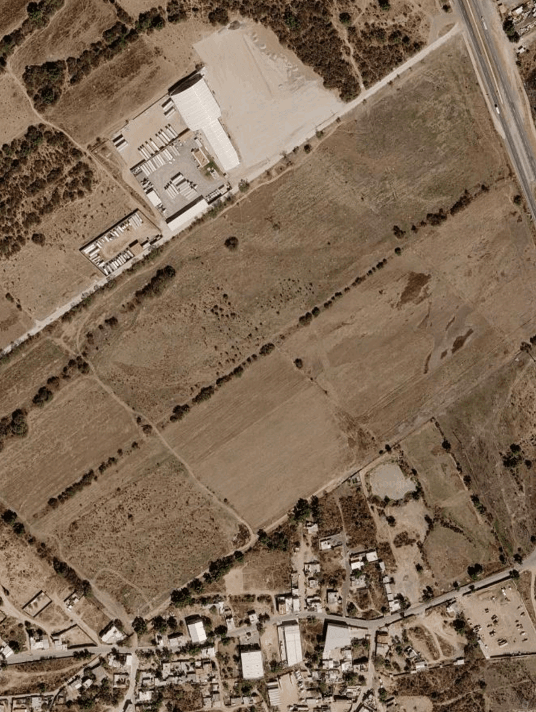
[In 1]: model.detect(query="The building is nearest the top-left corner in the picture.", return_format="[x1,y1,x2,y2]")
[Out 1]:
[171,75,220,128]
